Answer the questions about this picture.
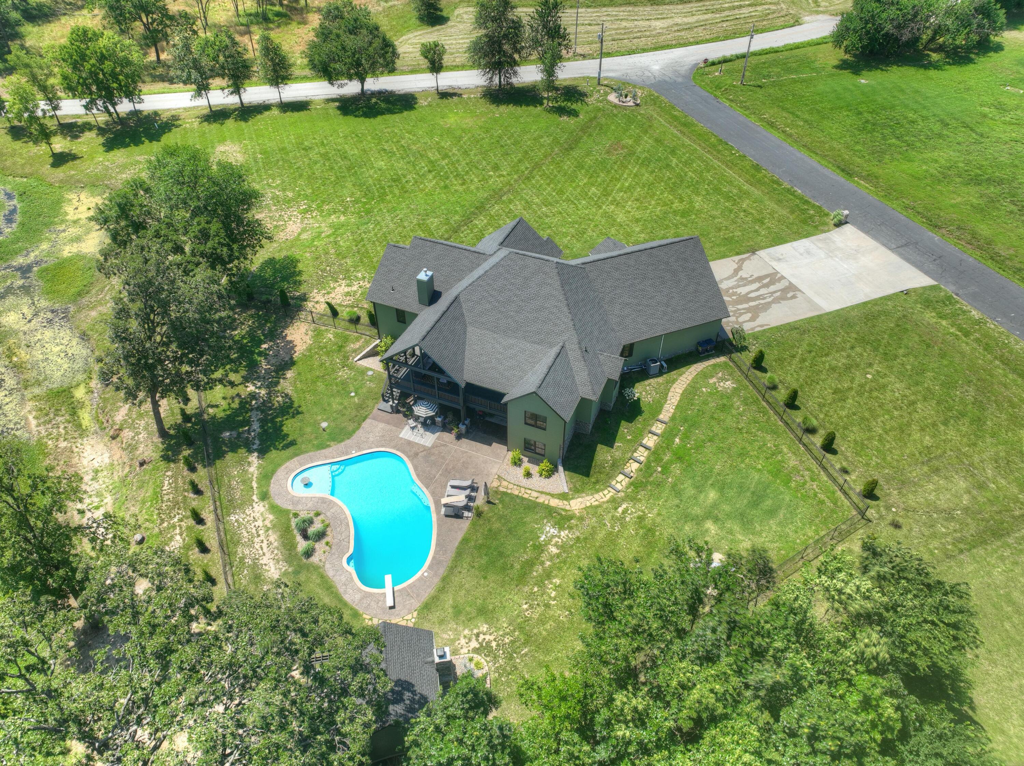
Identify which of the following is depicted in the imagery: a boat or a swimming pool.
swimming pool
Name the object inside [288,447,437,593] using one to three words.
swimming pool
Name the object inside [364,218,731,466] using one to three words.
house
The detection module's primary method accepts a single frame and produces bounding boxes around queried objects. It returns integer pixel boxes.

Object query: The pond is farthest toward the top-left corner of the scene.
[0,179,106,453]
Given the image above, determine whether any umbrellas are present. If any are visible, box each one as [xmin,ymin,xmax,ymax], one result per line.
[413,400,439,418]
[482,479,494,506]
